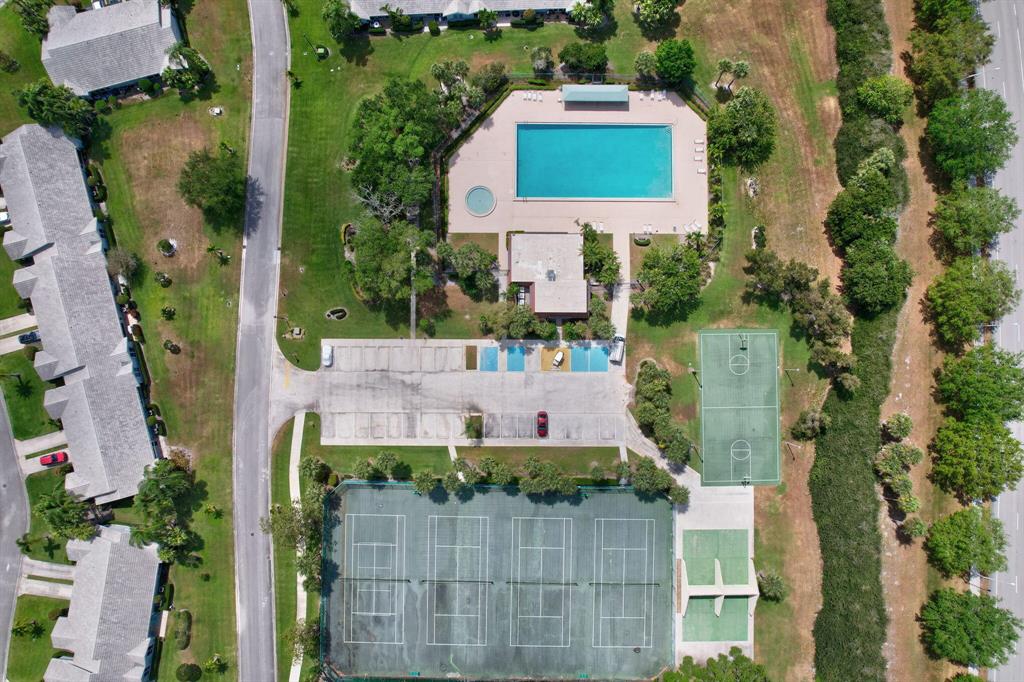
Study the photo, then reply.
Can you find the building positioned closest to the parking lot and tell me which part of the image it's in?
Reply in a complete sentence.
The building positioned closest to the parking lot is located in the center region of the scene.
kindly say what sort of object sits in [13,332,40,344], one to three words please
vehicle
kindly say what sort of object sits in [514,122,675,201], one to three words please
swimming pool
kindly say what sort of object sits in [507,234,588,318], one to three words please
building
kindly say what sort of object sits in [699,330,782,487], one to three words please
basketball court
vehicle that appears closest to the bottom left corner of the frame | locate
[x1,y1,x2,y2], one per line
[40,453,66,467]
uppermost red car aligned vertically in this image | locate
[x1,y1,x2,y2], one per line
[537,411,549,438]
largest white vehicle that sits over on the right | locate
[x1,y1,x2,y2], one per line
[610,337,625,365]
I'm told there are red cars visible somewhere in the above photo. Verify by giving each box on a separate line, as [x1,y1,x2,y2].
[537,411,549,438]
[40,453,66,467]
